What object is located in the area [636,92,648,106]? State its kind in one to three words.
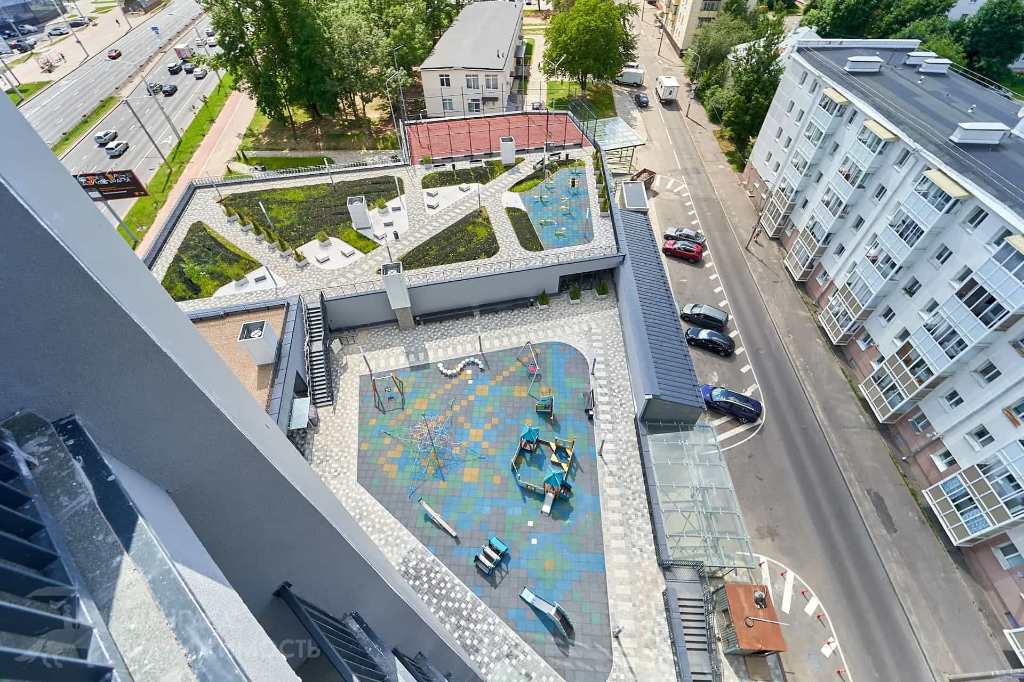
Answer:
vehicle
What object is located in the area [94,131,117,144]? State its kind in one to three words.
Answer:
vehicle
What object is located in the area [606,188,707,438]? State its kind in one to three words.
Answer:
shed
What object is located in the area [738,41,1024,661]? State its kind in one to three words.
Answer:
building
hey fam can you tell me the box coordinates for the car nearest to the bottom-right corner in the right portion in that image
[701,384,765,424]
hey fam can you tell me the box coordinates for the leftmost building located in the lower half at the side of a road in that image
[0,170,480,682]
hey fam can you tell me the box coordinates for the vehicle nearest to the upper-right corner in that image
[660,75,678,100]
